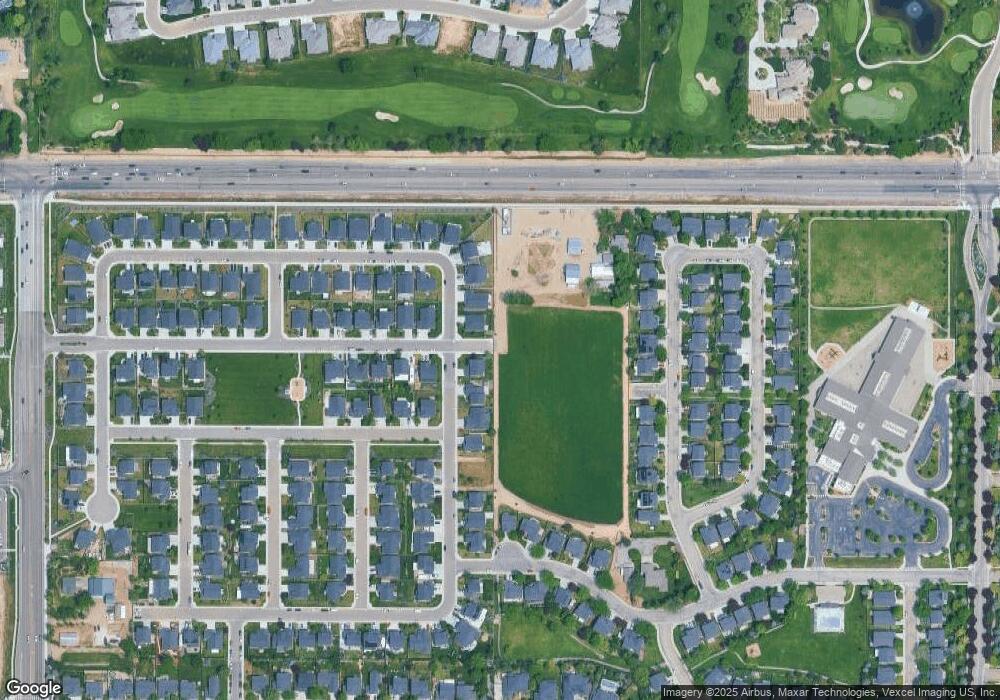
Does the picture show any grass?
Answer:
Yes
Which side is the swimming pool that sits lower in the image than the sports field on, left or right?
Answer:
right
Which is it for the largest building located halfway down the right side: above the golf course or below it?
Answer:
below it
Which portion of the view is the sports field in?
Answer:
right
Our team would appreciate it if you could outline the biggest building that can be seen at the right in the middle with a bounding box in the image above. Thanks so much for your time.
[813,315,925,494]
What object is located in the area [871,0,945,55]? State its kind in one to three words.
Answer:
pond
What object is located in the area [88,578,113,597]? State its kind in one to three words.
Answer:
building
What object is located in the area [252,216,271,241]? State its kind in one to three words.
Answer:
house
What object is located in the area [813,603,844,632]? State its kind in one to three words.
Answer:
swimming pool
